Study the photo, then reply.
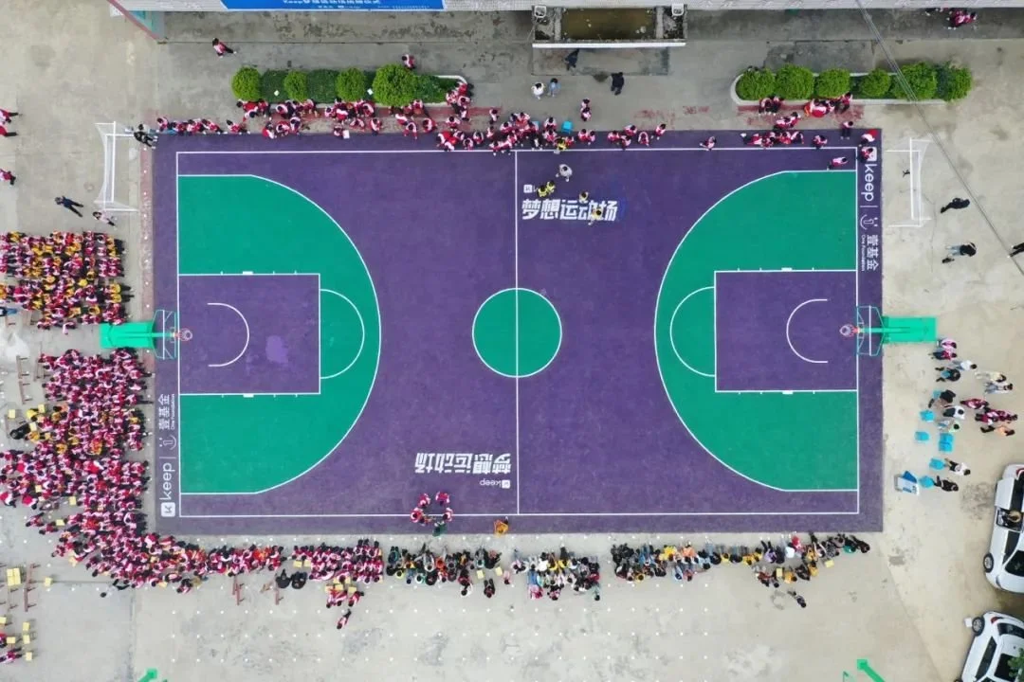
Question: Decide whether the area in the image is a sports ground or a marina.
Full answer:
This image shows a sports ground.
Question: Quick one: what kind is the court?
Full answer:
In the photo, the court shows up as a basketball court.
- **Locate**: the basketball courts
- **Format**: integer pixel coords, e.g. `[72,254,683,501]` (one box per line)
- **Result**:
[152,129,884,535]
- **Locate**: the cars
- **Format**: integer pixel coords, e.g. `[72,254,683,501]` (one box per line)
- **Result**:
[982,463,1024,596]
[955,607,1024,682]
